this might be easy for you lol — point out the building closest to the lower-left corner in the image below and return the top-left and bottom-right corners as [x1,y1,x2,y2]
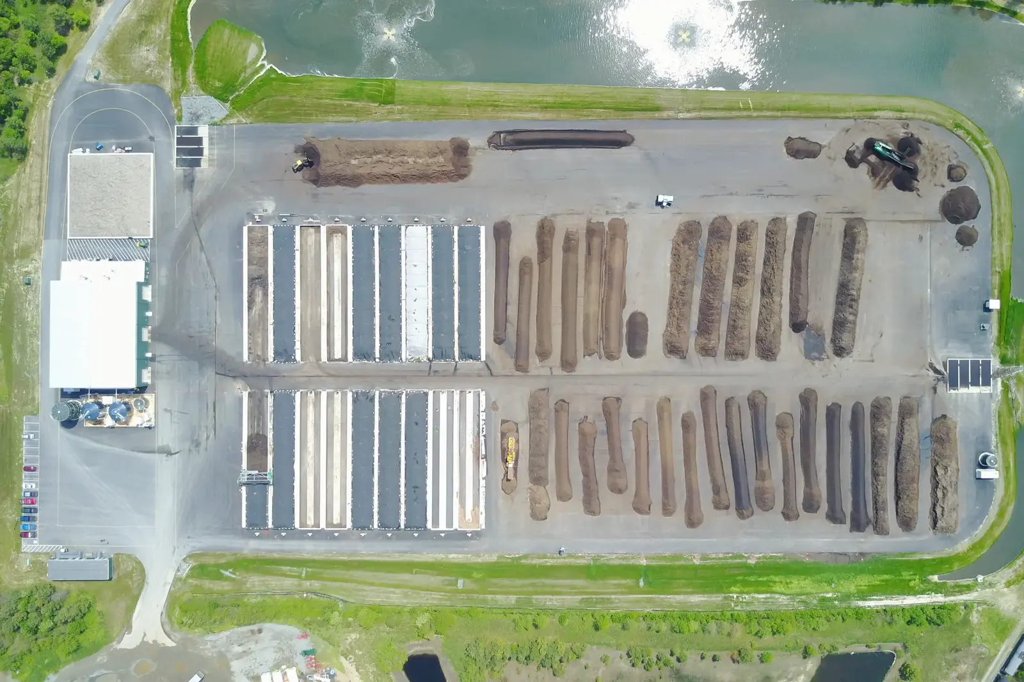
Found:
[48,551,114,580]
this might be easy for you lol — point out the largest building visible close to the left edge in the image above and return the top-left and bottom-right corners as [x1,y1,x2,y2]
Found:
[50,280,156,388]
